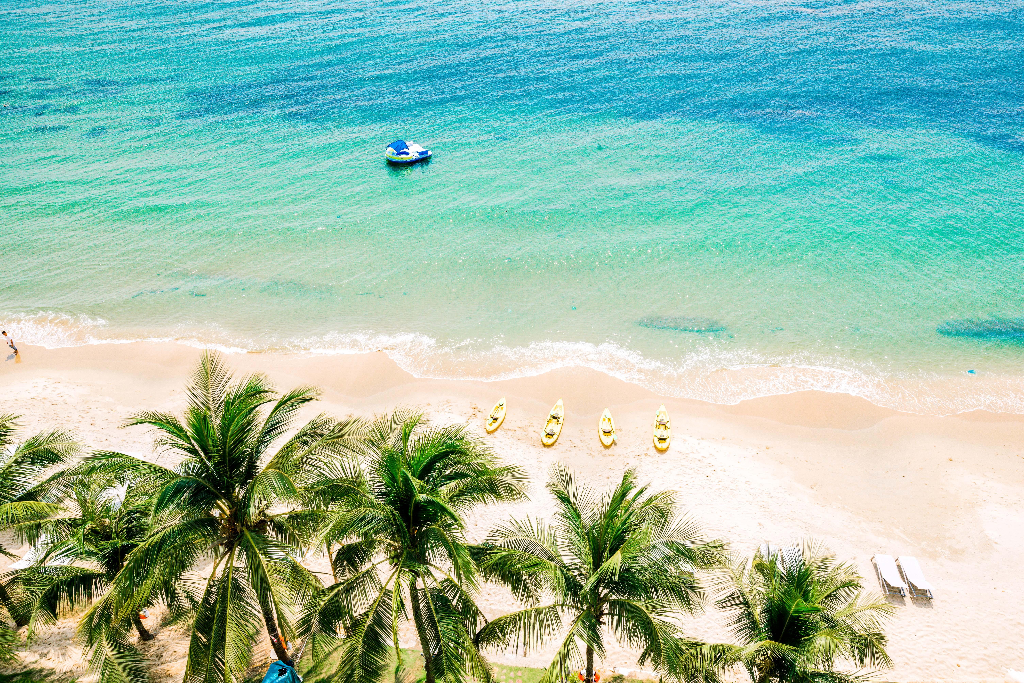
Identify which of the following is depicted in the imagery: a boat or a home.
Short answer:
boat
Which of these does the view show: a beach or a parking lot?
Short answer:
beach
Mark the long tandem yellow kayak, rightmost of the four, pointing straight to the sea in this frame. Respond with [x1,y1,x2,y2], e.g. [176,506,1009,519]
[652,403,671,452]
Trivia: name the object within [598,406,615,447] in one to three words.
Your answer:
boat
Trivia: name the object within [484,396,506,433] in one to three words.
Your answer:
boat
